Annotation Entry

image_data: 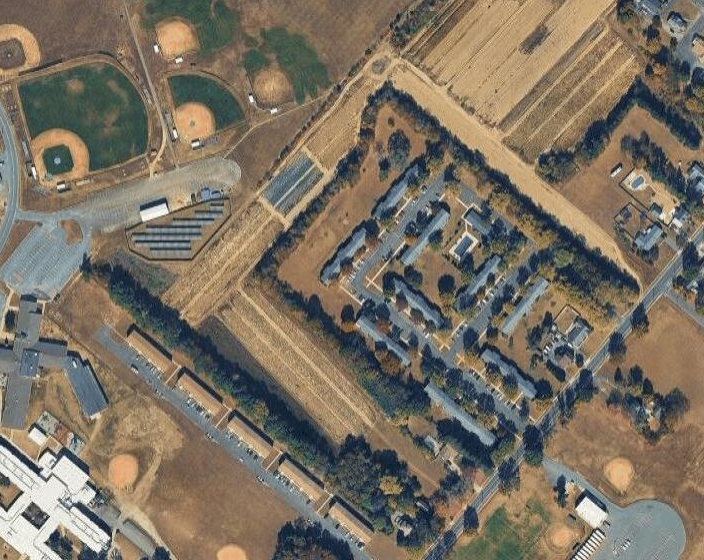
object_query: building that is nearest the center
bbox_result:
[316,225,369,284]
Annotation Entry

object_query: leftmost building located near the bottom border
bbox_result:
[0,446,110,560]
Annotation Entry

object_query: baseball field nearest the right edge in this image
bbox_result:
[606,459,633,497]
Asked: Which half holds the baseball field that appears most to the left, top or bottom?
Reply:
top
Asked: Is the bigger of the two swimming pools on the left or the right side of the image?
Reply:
right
